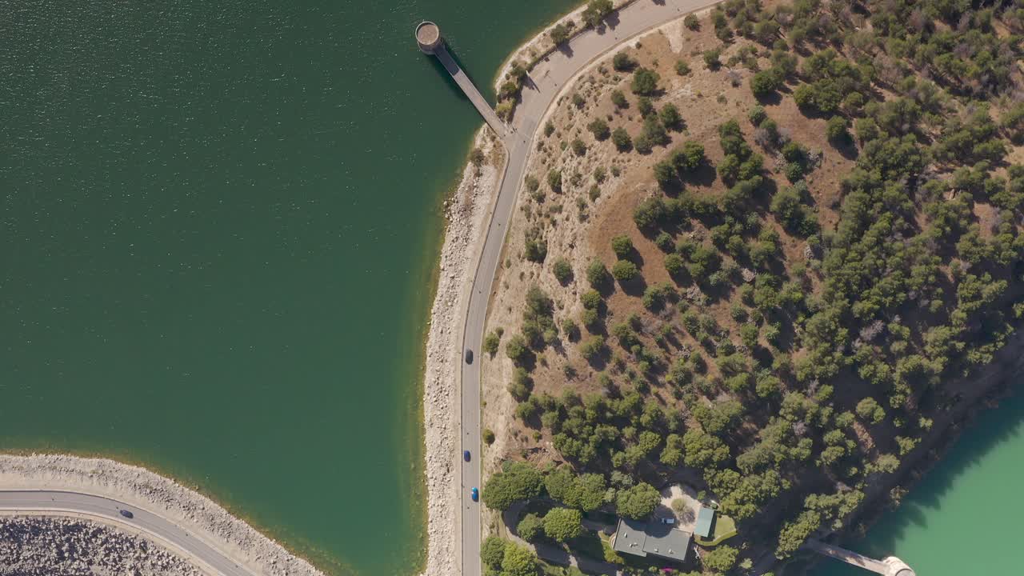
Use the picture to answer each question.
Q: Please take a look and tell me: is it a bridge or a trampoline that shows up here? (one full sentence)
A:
The one in the frame is a bridge.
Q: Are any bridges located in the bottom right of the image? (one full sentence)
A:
Yes, I can see a bridge in the bottom right of the image.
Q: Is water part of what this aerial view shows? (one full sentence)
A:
Yes, there is water in the image.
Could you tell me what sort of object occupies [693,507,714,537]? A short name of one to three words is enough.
shed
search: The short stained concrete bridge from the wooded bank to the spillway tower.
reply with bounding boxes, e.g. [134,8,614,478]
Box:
[799,539,889,572]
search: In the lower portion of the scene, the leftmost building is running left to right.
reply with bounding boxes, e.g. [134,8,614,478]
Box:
[604,517,690,562]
